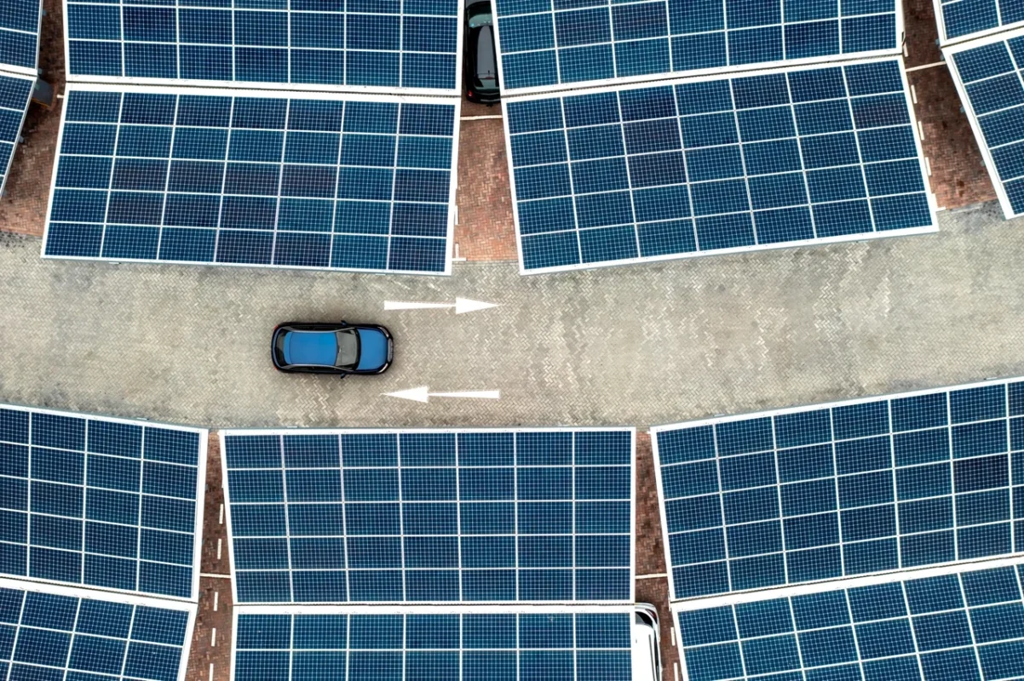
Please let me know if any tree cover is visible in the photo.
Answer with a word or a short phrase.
No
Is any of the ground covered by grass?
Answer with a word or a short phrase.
No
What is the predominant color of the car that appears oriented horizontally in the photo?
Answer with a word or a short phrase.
blue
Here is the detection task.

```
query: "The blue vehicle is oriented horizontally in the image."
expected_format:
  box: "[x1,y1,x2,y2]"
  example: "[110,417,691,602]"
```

[270,317,394,378]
